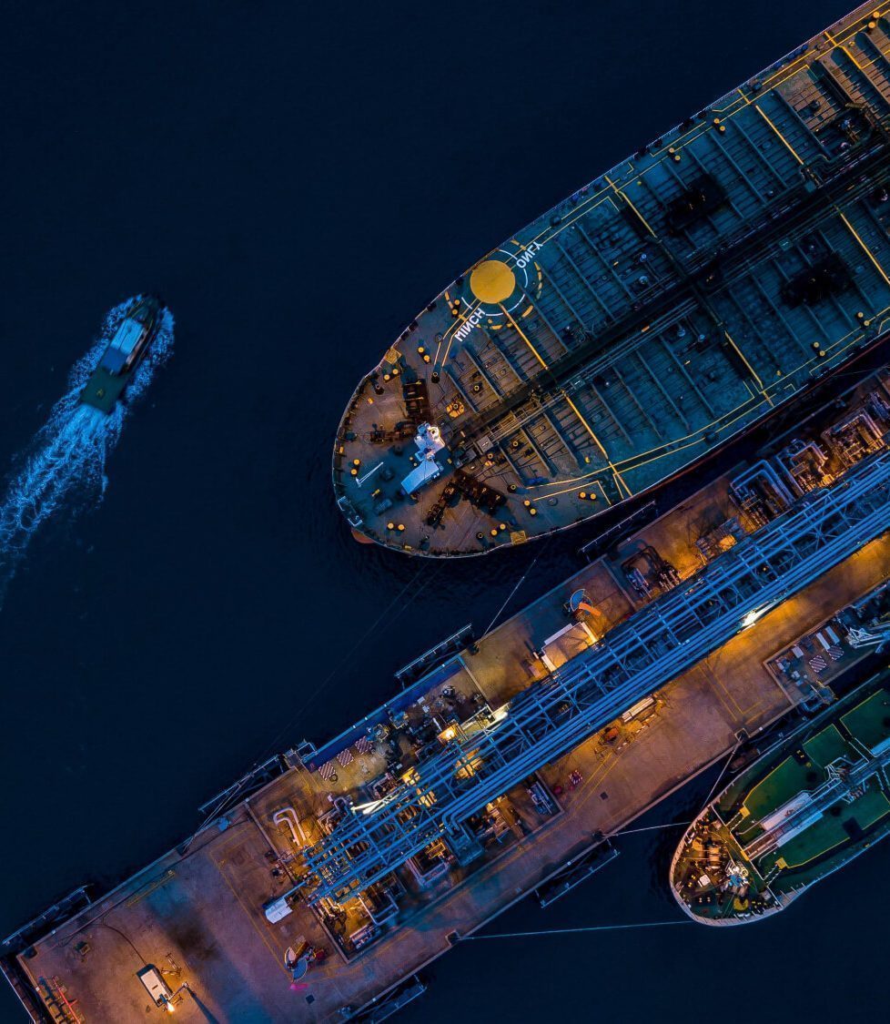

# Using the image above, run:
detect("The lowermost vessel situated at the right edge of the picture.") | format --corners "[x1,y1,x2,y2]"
[670,657,890,926]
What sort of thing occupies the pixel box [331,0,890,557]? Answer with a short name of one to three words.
ship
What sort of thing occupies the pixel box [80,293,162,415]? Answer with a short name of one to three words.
boat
